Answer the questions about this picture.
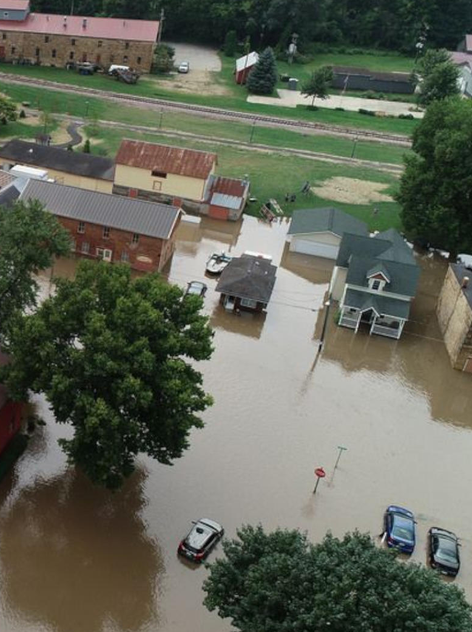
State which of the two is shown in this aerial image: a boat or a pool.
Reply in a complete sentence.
There is a boat in the scene.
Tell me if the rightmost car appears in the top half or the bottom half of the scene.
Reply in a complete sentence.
The rightmost car sits in the bottom half of the picture.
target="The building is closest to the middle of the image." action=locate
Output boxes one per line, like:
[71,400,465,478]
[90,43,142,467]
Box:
[218,257,284,313]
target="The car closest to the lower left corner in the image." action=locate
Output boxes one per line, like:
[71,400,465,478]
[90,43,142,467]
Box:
[177,525,221,568]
